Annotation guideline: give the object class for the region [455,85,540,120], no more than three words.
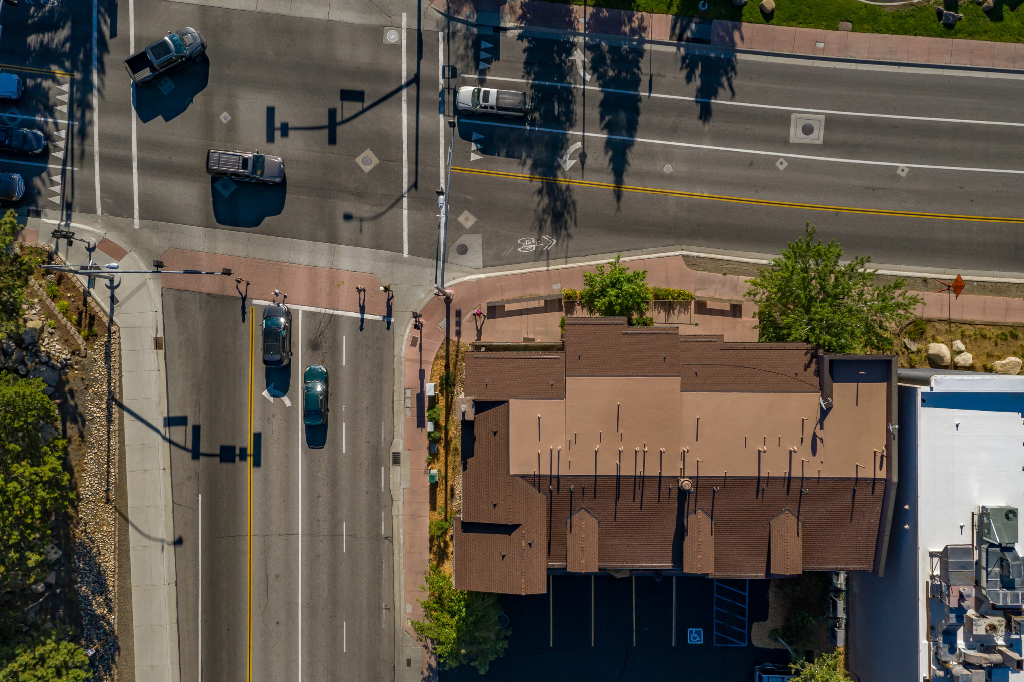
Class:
truck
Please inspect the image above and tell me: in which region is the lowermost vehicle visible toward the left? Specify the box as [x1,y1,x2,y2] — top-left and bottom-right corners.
[300,364,329,425]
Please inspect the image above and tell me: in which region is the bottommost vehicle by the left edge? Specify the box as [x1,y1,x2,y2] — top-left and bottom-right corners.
[0,171,28,200]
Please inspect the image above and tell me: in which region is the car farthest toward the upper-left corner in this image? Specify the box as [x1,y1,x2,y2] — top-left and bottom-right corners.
[0,72,25,102]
